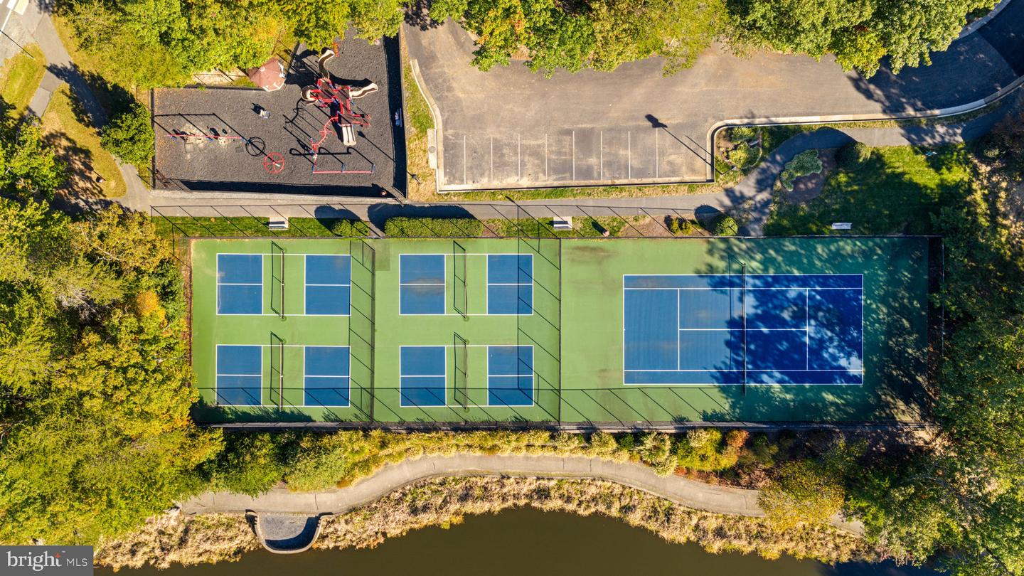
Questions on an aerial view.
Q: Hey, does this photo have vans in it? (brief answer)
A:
No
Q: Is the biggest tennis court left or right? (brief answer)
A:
right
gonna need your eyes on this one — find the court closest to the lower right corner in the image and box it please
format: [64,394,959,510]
[560,238,928,425]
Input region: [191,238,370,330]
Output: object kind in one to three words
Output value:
sports court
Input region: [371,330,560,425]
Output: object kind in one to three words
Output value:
sports court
